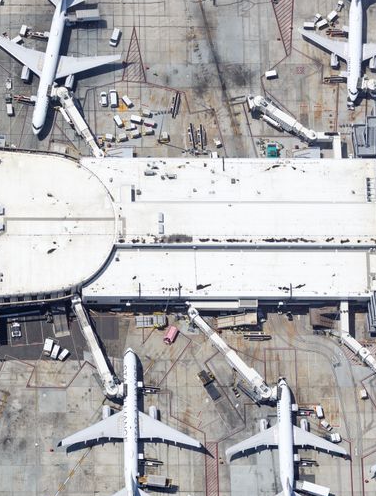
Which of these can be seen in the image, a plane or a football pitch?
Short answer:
plane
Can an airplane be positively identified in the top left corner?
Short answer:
Yes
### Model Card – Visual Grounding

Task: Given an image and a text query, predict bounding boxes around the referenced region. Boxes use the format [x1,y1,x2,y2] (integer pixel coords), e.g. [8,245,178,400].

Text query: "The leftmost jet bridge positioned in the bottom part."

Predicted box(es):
[71,296,125,397]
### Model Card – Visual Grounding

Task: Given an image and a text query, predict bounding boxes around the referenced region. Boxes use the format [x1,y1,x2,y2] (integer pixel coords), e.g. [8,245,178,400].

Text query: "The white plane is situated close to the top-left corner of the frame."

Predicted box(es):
[0,0,118,134]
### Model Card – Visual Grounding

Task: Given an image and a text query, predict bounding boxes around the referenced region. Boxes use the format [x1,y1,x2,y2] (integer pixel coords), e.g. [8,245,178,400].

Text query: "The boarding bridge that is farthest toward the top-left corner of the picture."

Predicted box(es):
[49,84,105,158]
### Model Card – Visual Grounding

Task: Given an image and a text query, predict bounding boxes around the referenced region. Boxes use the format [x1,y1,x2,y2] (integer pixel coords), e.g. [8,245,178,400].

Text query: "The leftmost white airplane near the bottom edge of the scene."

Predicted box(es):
[58,349,201,496]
